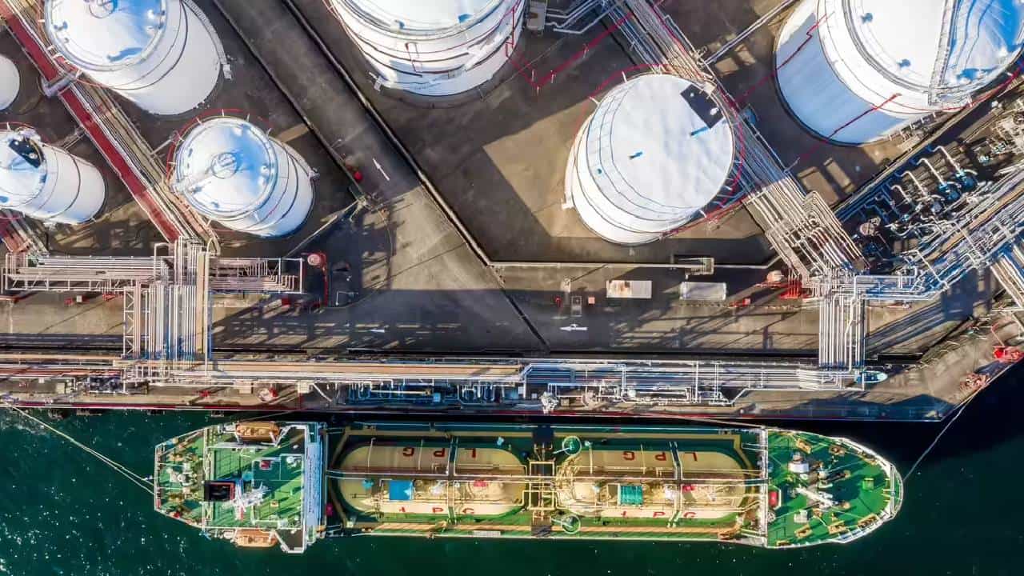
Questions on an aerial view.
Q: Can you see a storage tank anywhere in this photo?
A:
Yes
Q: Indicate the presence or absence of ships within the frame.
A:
Yes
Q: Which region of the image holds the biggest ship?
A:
bottom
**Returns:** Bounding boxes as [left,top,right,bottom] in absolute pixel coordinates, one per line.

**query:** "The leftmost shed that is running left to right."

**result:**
[604,280,652,299]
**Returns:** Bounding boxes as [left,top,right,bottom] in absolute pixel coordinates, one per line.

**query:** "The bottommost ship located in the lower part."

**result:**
[155,418,903,557]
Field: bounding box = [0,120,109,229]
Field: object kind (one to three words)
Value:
storage tank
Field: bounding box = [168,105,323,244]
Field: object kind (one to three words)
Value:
storage tank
